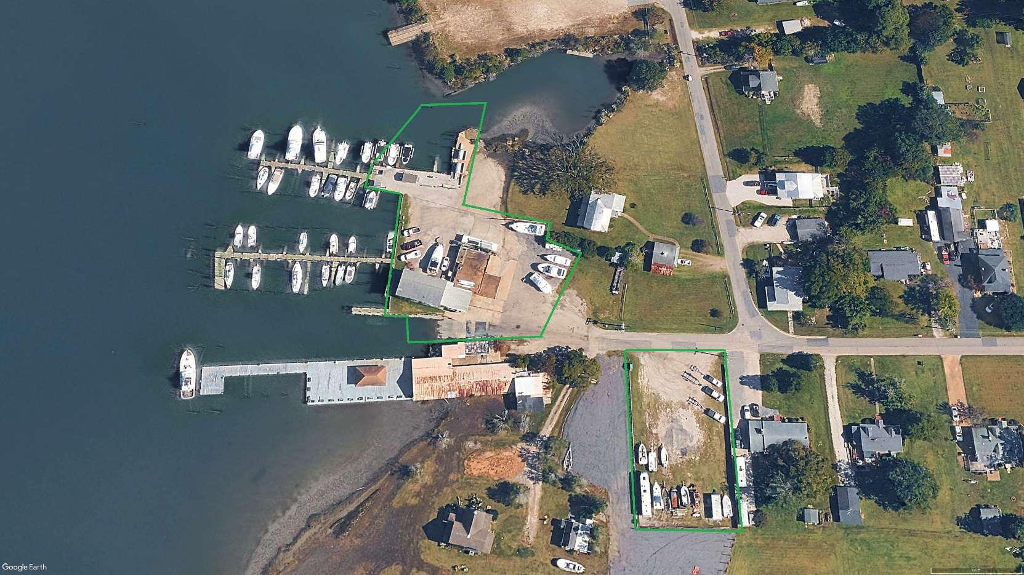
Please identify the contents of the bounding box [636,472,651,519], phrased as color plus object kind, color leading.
white camper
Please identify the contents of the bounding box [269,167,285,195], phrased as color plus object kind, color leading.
white boat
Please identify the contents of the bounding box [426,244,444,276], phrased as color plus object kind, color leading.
white boat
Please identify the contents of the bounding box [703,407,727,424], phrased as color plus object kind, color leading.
white vehicle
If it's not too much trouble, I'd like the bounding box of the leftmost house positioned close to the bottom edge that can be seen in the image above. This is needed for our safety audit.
[447,511,494,555]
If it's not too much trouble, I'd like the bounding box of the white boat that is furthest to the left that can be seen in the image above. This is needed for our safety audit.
[180,349,196,399]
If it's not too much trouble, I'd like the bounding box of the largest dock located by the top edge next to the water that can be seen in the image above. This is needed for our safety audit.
[388,20,435,45]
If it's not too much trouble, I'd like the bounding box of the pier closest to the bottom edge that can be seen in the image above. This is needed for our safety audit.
[351,308,444,320]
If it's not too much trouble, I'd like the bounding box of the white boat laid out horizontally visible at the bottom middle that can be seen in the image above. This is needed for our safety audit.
[556,559,585,572]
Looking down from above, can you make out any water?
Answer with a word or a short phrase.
Yes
